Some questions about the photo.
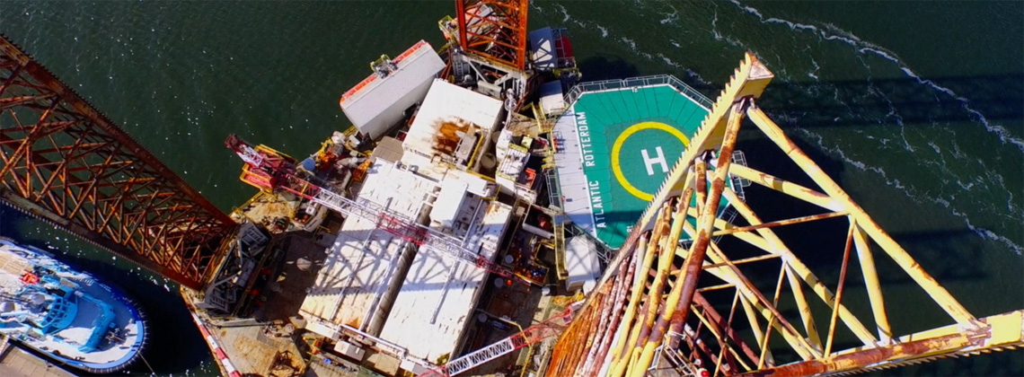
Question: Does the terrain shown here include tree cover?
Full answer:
No, tree cover can't be seen anywhere here.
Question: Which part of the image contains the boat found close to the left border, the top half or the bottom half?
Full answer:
The bottom half of the photo is where the boat found close to the left border is.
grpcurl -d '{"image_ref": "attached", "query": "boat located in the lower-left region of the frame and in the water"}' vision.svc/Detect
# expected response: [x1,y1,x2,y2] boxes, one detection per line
[0,228,151,367]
